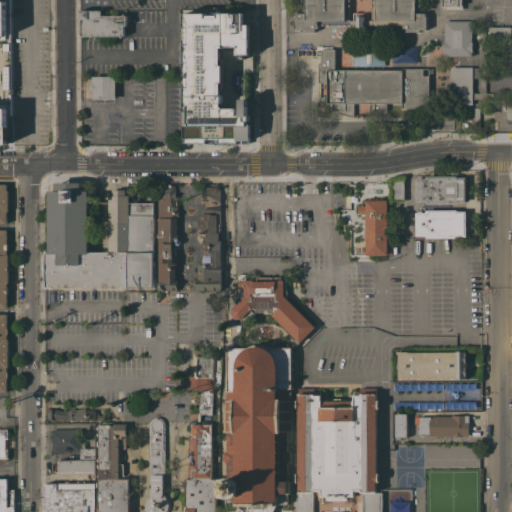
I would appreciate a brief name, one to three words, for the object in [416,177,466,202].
building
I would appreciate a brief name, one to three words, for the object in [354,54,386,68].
building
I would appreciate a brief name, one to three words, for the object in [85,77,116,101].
house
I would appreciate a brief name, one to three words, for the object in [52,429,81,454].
house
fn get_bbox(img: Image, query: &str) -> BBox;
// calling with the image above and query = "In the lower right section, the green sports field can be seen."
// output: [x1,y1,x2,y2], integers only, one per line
[428,470,482,512]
